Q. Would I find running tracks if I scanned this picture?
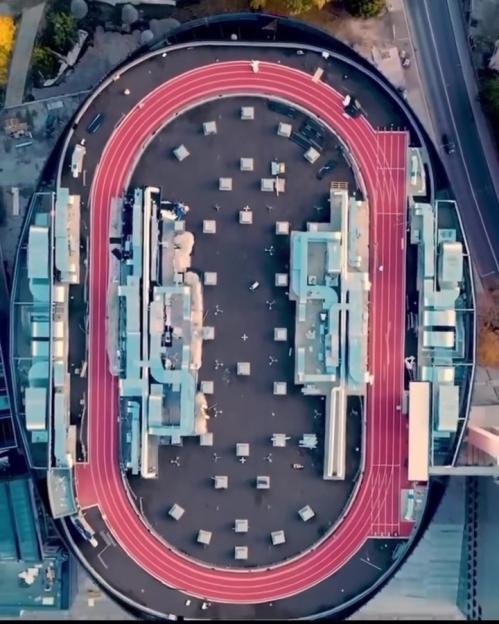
Yes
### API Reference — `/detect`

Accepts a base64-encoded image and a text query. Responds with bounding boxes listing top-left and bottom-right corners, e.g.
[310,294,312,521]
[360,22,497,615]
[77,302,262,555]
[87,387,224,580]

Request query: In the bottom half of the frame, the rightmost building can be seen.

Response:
[451,408,499,463]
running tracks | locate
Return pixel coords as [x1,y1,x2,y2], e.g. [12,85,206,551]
[76,60,415,604]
